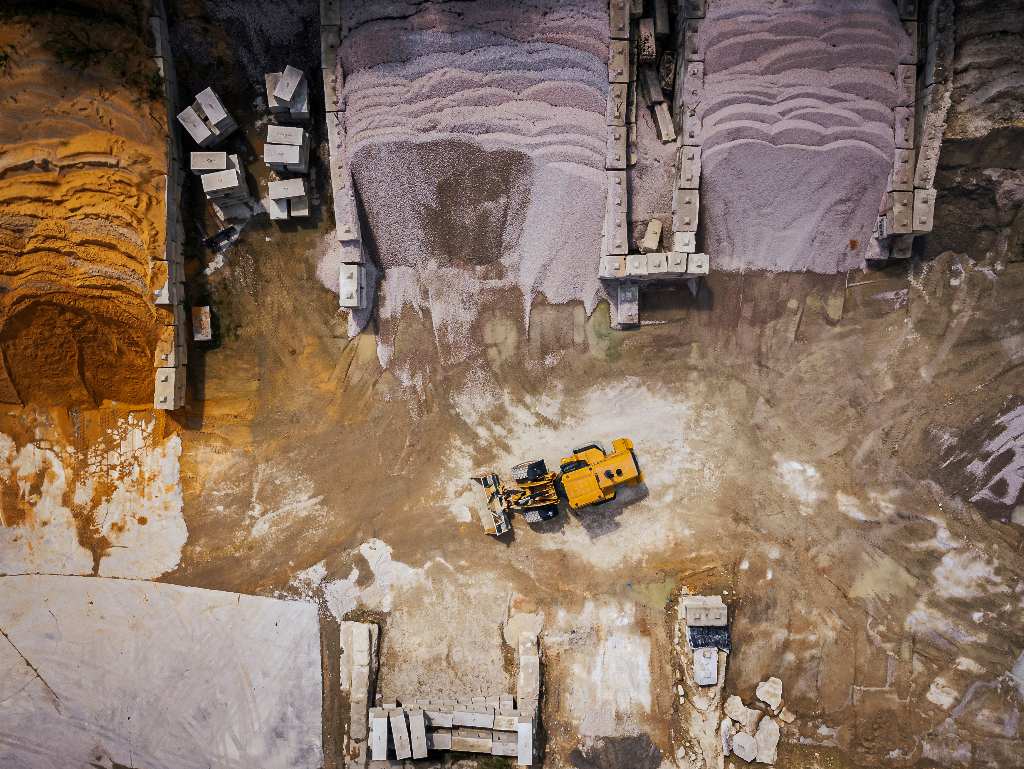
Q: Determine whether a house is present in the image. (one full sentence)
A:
No, no house is visible in the view.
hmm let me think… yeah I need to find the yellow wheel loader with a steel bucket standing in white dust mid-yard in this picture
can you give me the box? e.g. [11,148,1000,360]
[468,436,645,532]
